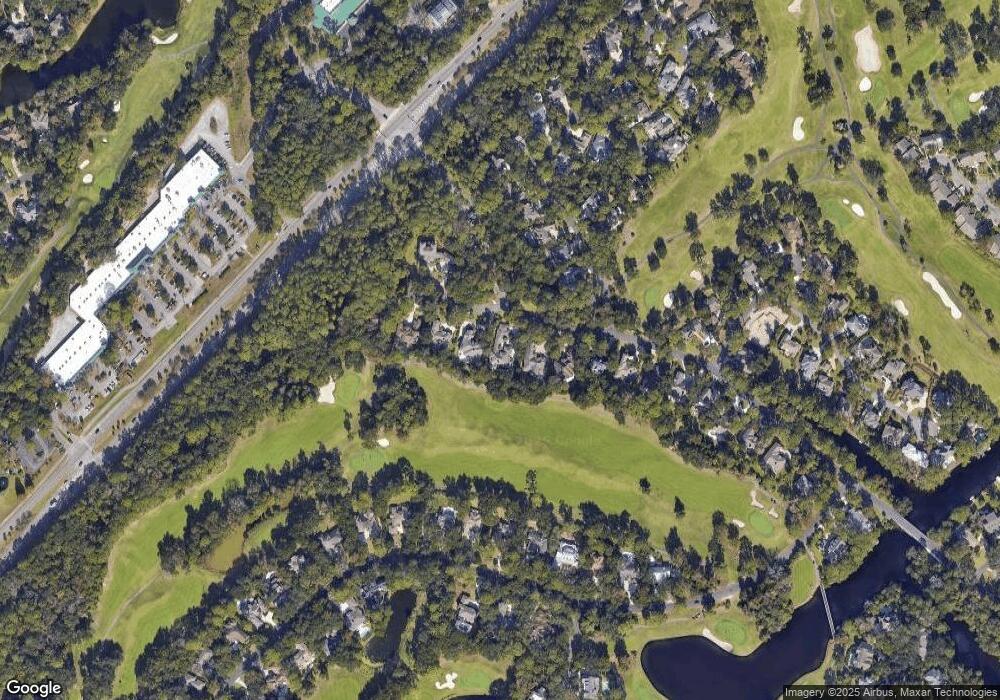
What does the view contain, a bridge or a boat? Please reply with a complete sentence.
I can see a bridge in this picture.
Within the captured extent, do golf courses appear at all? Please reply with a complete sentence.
Yes, this view includes a golf course.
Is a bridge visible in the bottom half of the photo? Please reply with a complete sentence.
Yes, a bridge is visible in the bottom half of the photo.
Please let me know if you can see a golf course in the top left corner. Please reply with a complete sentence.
Yes, looking in the top left corner, one can make out a golf course.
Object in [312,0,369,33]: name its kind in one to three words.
building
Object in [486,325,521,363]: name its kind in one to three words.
house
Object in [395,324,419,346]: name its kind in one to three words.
house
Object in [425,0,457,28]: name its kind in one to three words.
building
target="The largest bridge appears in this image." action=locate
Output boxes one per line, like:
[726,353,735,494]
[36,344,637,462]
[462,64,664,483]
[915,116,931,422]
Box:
[888,509,941,556]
